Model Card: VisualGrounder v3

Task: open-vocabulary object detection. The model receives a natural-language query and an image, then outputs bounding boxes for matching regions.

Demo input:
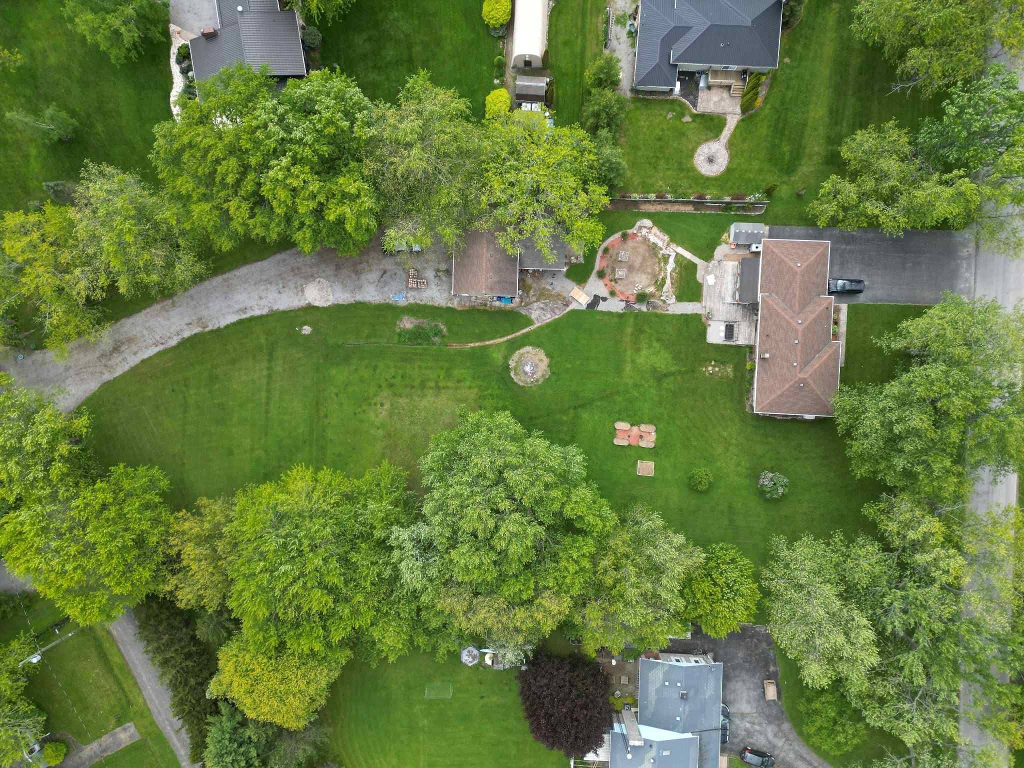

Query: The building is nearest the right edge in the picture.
[751,239,842,422]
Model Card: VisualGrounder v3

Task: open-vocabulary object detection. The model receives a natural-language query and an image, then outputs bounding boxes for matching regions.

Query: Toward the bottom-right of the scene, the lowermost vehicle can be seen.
[741,747,778,768]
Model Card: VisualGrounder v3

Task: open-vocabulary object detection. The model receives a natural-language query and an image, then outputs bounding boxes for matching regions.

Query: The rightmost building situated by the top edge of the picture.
[633,0,783,93]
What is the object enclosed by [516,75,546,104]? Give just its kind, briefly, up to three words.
shed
